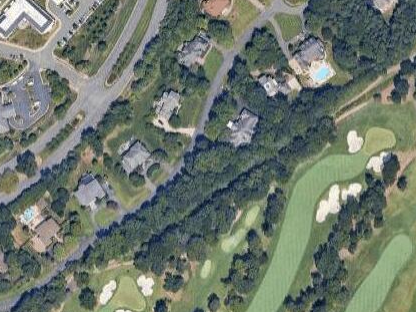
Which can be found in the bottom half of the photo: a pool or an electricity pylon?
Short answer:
pool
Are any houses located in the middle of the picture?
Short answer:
Yes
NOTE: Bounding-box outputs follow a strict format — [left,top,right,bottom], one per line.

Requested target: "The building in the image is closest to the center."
[228,110,262,145]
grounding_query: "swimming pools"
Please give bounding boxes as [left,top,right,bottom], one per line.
[304,60,336,88]
[20,206,45,231]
